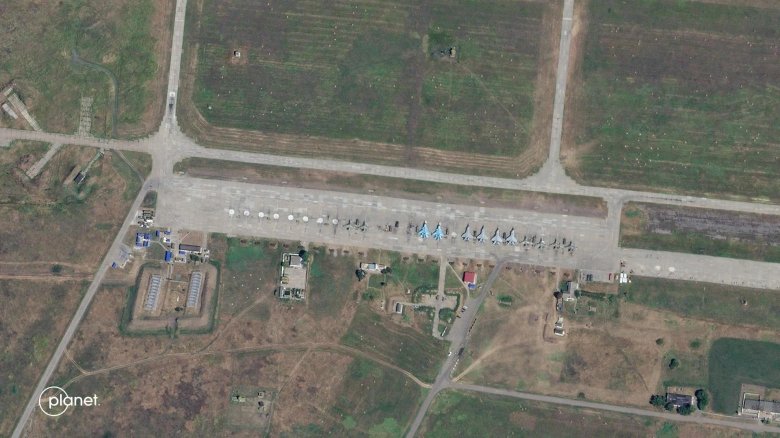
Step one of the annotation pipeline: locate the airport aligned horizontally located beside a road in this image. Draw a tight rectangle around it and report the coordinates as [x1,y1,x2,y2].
[0,0,780,289]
